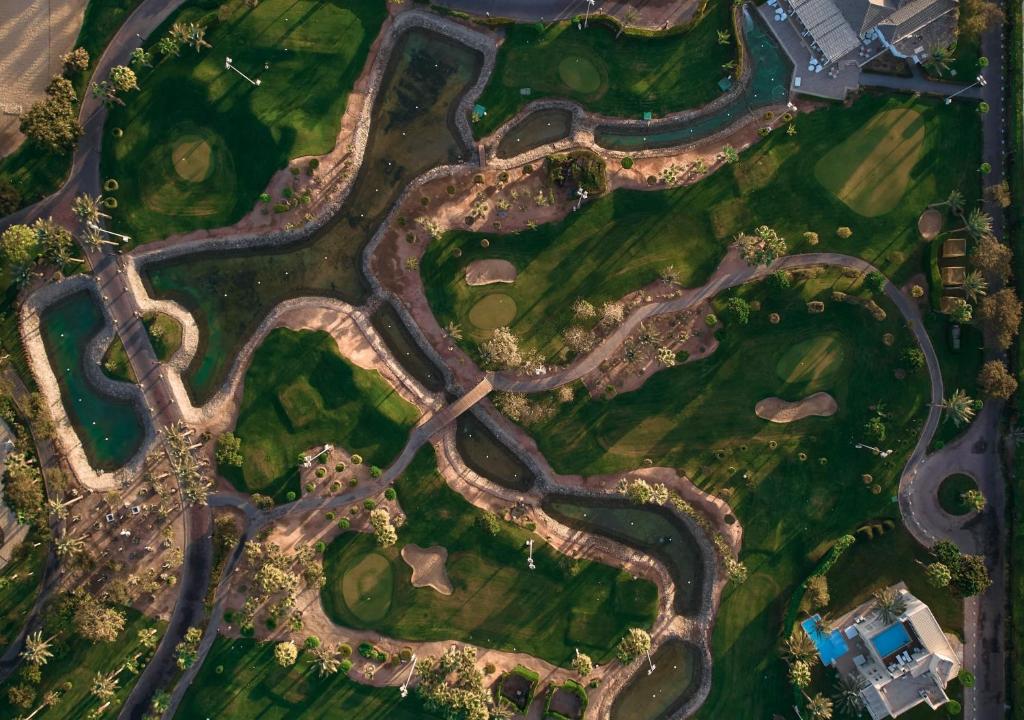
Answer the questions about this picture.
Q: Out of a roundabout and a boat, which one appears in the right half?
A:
roundabout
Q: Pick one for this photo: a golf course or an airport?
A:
golf course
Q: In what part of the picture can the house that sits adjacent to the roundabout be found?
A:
bottom right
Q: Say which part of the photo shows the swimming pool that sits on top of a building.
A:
bottom right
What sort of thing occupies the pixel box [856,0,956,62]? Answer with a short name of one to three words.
building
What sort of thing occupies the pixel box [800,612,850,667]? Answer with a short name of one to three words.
swimming pool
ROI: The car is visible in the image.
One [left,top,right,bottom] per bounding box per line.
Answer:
[951,324,964,348]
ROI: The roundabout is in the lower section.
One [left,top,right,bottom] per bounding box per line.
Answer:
[911,418,1003,552]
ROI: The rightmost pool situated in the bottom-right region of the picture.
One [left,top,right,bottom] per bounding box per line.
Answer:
[870,620,914,659]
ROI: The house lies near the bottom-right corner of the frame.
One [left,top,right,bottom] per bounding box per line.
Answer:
[848,585,962,720]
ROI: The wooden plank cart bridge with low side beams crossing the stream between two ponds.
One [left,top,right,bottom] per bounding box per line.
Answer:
[437,377,494,423]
